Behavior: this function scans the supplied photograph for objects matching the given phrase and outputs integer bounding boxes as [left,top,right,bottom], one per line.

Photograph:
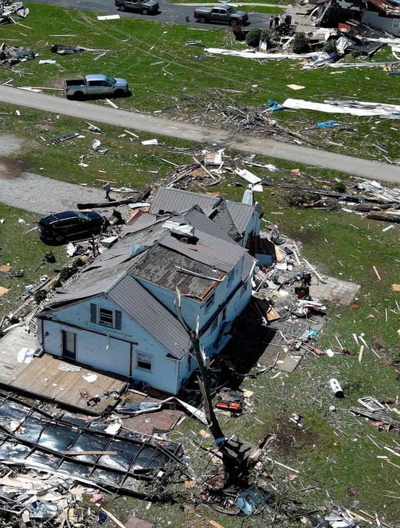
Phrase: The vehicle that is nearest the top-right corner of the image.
[191,1,247,25]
